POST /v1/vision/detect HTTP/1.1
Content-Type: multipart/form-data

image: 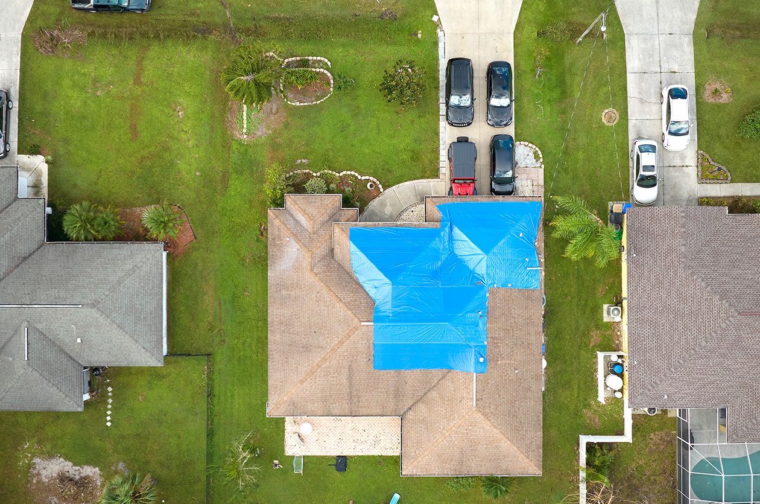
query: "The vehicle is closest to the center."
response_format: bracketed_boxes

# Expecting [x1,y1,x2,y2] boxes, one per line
[448,134,477,194]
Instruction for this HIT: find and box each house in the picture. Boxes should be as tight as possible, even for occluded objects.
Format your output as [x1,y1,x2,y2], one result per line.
[620,205,760,443]
[266,191,544,478]
[0,164,170,411]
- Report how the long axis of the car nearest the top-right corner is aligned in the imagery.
vertically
